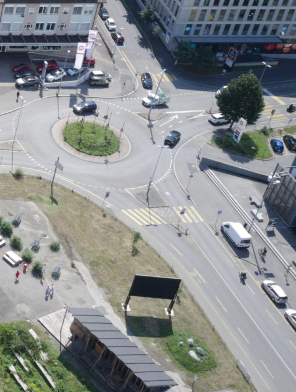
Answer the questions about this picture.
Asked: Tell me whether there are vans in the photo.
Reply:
Yes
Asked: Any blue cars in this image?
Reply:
Yes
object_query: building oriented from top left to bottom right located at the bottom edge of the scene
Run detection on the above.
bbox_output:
[30,302,172,392]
